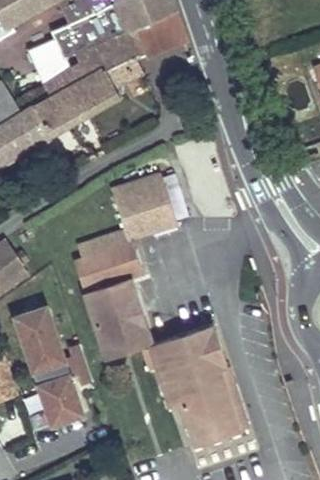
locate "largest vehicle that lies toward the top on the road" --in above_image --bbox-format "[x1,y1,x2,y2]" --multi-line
[250,180,266,201]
